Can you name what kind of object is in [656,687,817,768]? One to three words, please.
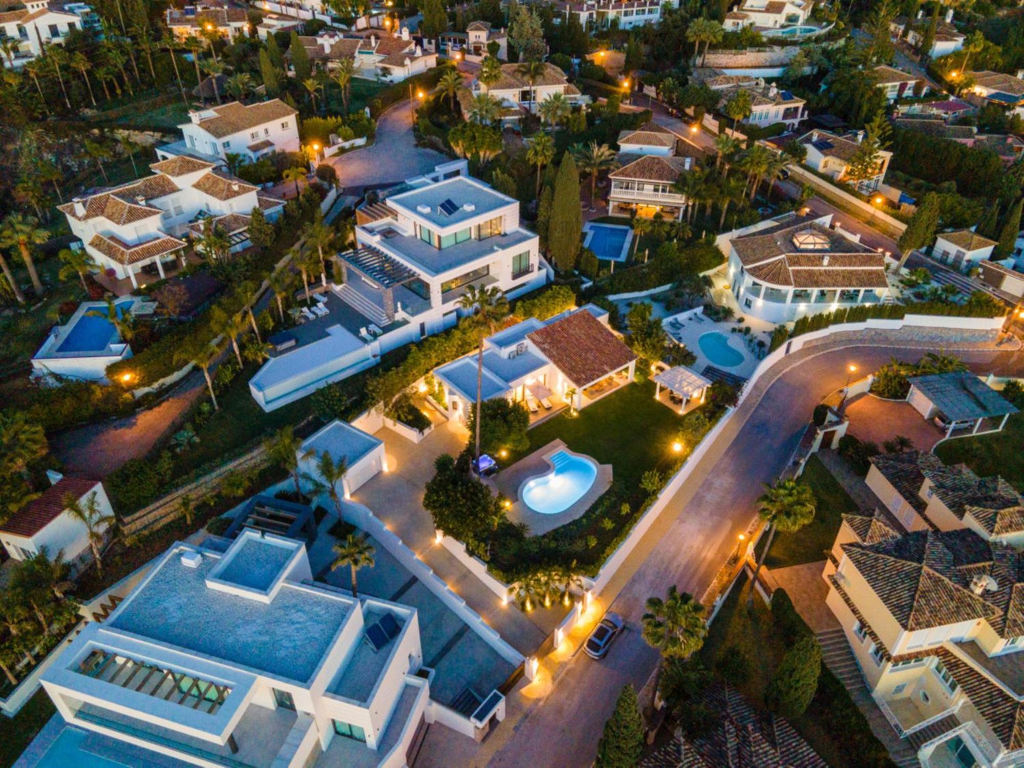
house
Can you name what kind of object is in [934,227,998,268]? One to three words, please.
house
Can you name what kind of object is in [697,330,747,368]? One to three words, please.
swimming pool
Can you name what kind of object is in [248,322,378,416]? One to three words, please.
swimming pool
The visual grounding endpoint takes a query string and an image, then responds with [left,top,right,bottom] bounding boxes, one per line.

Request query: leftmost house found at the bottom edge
[33,526,435,768]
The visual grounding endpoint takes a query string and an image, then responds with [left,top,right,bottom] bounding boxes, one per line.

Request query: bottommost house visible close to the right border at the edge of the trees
[819,453,1024,768]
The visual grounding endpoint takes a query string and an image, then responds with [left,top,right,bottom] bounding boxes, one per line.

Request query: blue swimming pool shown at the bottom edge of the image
[11,720,187,768]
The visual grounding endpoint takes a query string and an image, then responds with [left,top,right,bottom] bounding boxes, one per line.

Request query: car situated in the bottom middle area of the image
[589,617,630,662]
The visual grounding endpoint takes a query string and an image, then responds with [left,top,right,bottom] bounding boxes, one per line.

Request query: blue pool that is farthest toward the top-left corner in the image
[28,295,158,373]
